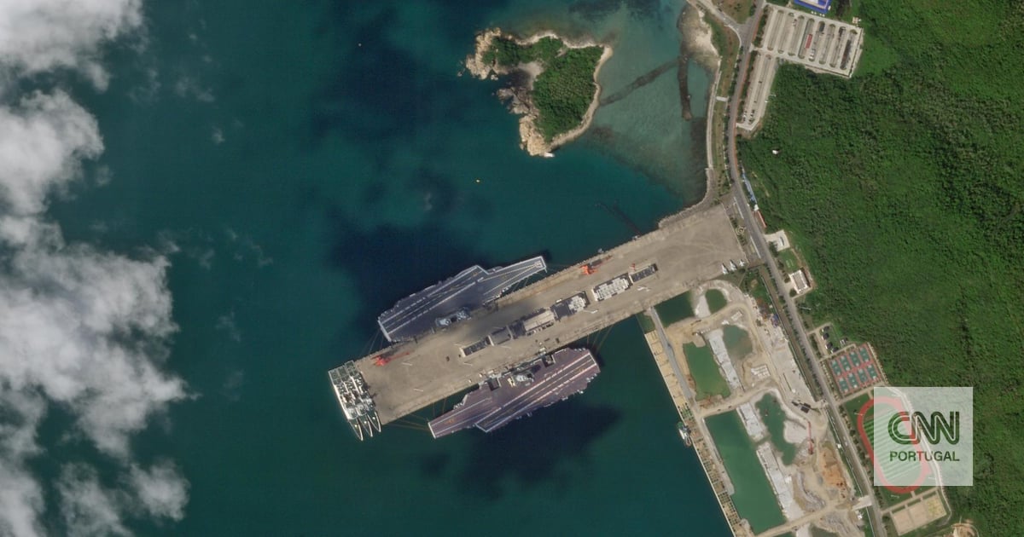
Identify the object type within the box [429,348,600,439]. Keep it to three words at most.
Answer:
ship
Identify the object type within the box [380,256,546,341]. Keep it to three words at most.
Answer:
ship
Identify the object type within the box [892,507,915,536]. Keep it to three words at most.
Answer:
sports court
